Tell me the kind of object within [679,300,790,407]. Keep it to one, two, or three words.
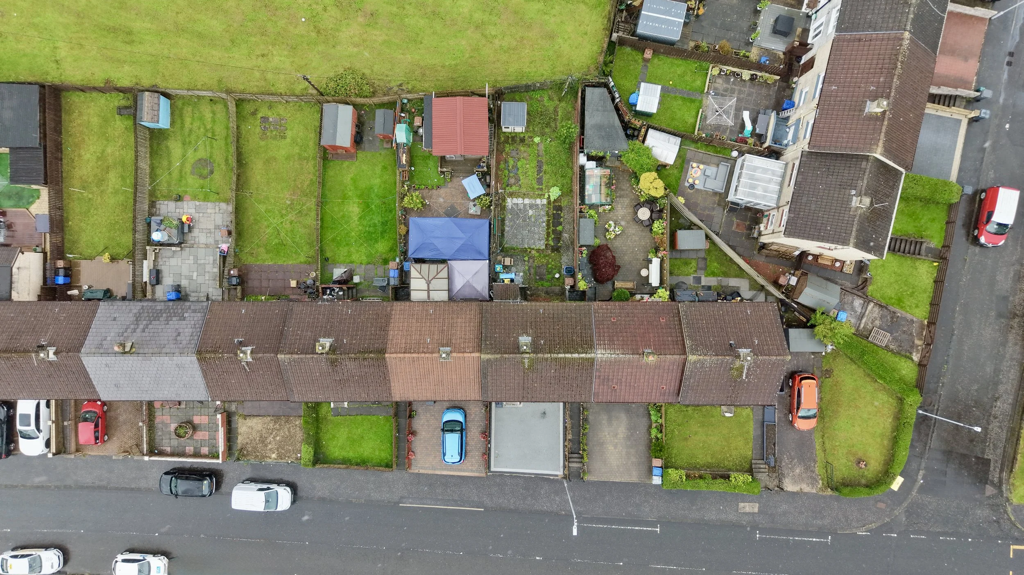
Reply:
house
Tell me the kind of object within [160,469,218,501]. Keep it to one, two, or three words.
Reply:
car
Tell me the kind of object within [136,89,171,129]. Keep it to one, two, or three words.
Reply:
shed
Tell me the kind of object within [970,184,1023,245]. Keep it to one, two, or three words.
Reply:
van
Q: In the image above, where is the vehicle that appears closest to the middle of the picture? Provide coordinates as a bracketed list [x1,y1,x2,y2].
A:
[439,407,469,464]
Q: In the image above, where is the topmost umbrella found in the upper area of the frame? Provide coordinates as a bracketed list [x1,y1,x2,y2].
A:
[462,174,485,199]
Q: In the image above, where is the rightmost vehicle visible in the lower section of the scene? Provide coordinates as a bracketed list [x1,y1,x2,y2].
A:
[790,371,826,430]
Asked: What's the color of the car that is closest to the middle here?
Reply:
blue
